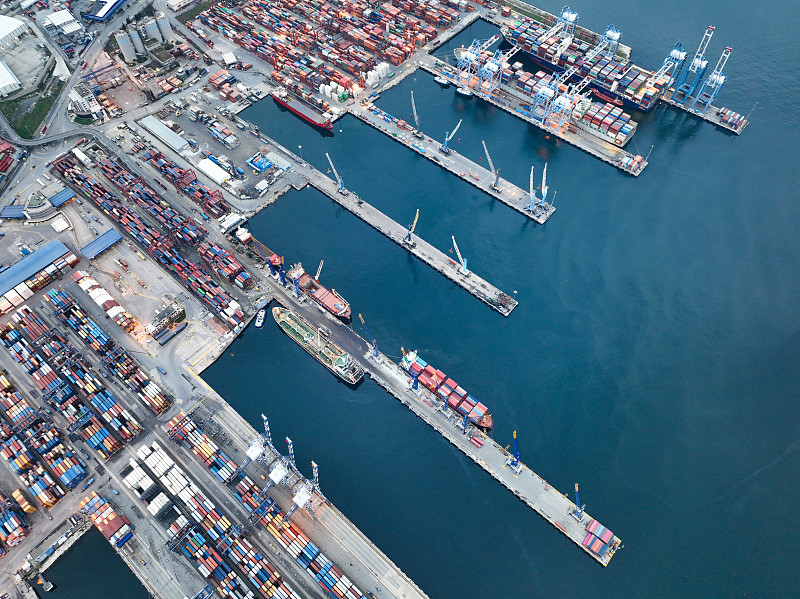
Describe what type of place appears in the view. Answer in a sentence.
This image shows a port.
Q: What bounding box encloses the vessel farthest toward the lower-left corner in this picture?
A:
[252,312,266,329]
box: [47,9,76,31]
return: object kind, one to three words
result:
building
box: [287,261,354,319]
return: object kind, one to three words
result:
ship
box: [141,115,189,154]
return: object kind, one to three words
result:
building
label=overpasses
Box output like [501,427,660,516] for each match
[0,106,131,162]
